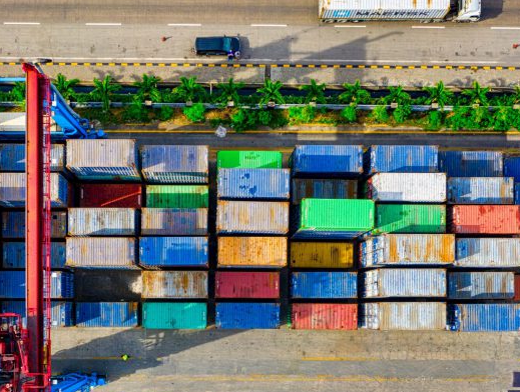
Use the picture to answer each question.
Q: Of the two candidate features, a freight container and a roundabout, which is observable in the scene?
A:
freight container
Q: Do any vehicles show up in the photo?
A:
Yes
